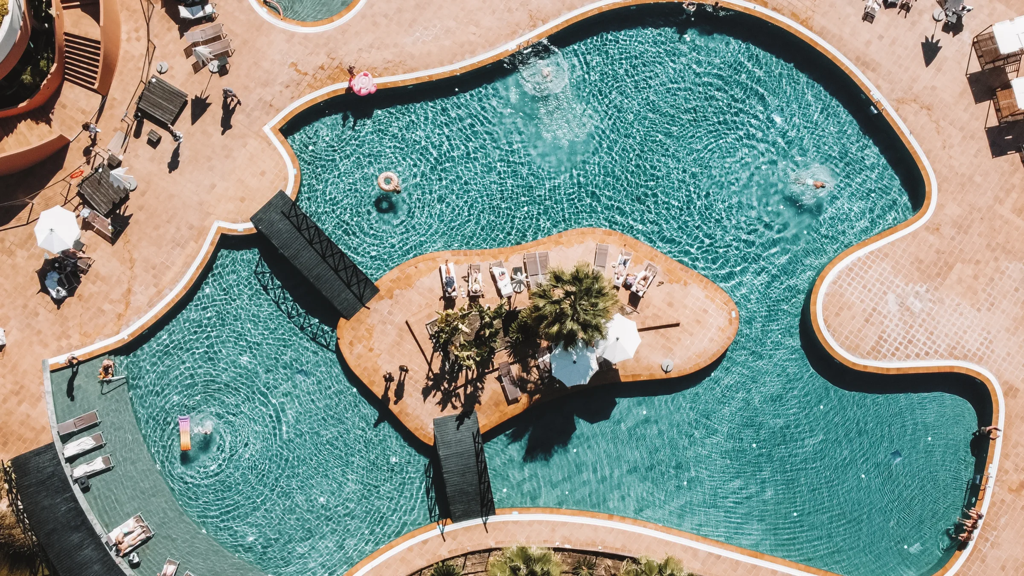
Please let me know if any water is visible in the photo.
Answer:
Yes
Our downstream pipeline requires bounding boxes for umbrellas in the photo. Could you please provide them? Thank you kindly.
[193,45,221,72]
[505,273,530,299]
[593,314,641,363]
[549,342,599,387]
[34,208,85,257]
[933,0,963,21]
[109,168,139,190]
